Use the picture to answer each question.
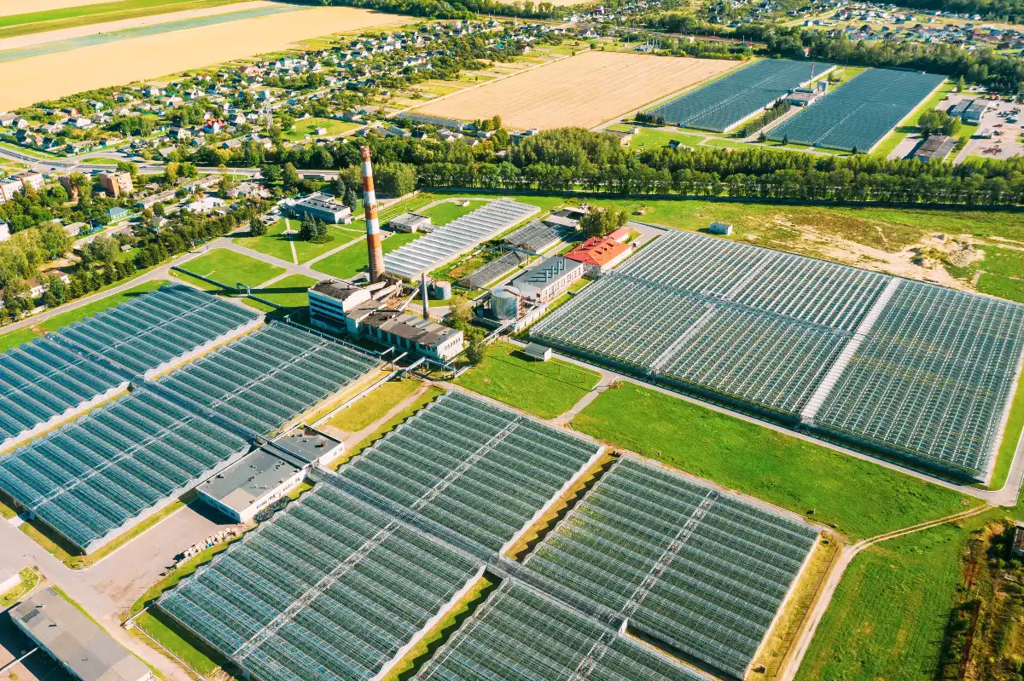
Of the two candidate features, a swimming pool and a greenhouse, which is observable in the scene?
greenhouse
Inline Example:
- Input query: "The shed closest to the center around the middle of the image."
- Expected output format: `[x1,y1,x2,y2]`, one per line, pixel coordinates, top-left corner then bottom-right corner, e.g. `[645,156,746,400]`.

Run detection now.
[522,345,550,364]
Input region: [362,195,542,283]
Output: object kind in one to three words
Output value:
greenhouse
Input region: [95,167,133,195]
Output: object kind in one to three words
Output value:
building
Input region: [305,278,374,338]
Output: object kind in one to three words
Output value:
building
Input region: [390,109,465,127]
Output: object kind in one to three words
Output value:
shed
